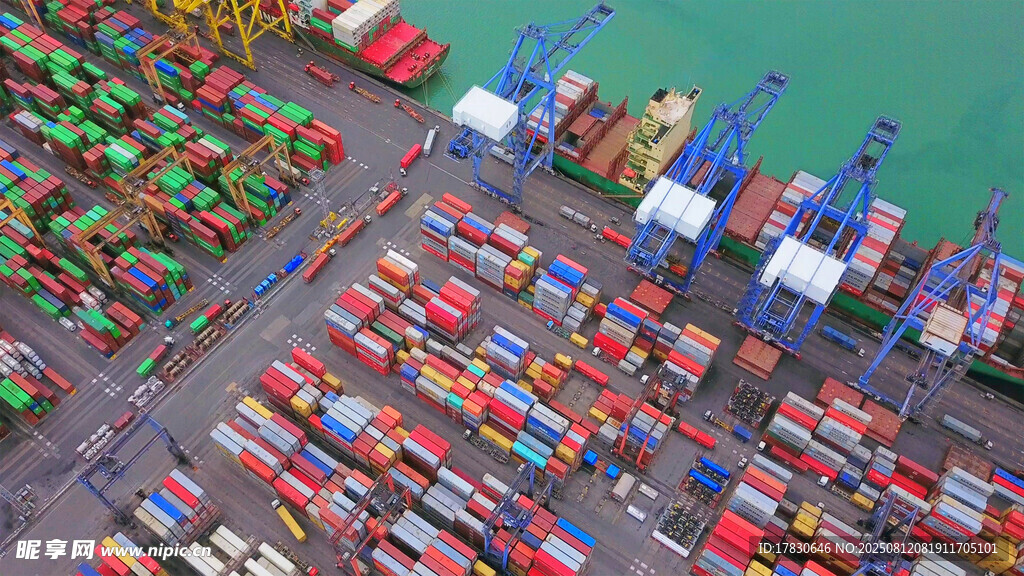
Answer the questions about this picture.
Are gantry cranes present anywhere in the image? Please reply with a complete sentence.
Yes, the photo shows a gantry crane.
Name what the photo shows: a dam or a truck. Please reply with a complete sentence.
There is a truck in the scene.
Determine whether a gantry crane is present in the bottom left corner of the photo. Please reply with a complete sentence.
Yes, the scene does show a gantry crane in the bottom left corner of the photo.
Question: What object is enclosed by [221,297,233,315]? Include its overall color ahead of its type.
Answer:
red vehicle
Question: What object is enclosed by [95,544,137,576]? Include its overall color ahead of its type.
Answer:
red shipping container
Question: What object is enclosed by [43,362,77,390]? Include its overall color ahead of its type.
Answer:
red shipping container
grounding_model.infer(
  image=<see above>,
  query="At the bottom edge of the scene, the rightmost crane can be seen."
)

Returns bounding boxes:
[845,488,923,576]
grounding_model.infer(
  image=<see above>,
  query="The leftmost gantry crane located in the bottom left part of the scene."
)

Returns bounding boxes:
[75,413,190,525]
